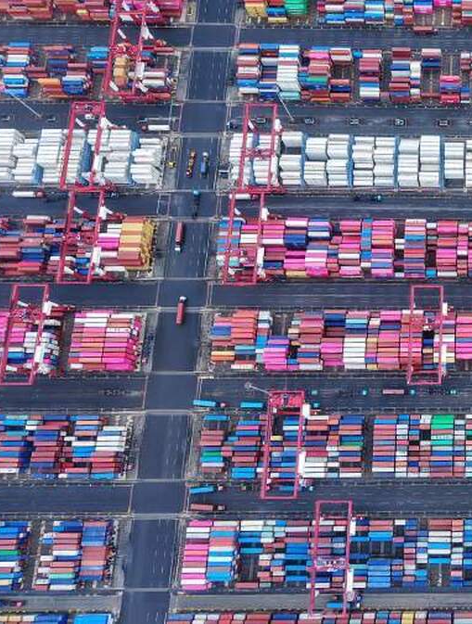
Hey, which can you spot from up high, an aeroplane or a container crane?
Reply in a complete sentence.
Looking from above, you can make out a container crane.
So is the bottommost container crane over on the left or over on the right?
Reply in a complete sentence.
The bottommost container crane appears in the right half of the scene.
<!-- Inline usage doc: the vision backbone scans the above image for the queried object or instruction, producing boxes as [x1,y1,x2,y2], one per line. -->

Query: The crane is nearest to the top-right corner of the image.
[237,104,290,194]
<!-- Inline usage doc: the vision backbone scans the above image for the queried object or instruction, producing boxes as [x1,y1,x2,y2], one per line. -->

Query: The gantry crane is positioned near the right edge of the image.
[403,286,452,385]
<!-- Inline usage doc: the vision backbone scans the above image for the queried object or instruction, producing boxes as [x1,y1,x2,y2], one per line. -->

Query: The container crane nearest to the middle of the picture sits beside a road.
[222,191,276,285]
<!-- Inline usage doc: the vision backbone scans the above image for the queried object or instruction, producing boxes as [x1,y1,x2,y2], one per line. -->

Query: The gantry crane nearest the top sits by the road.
[115,0,166,22]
